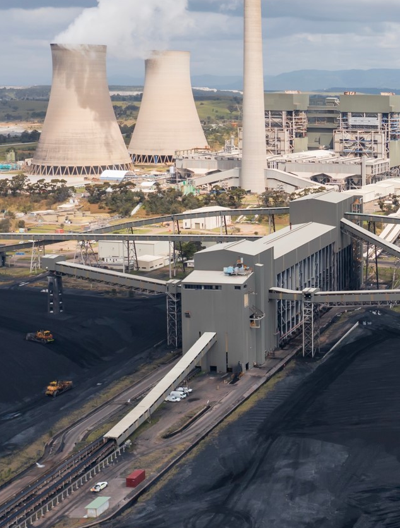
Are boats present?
No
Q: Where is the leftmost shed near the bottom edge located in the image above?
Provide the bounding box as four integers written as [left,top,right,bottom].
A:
[82,498,113,517]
